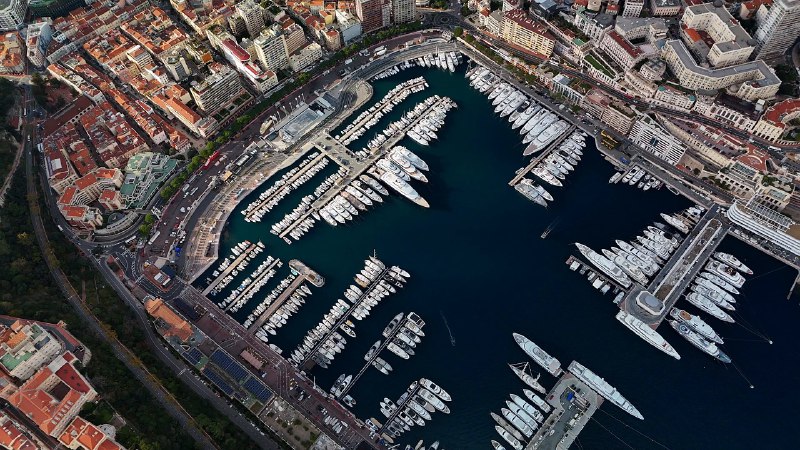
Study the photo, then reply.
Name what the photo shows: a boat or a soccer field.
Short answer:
boat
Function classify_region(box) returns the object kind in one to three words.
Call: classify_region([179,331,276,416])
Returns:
building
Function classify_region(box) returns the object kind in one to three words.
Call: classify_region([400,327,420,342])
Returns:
boat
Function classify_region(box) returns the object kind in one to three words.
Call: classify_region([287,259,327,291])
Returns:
pier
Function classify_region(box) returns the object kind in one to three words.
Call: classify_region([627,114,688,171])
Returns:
building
